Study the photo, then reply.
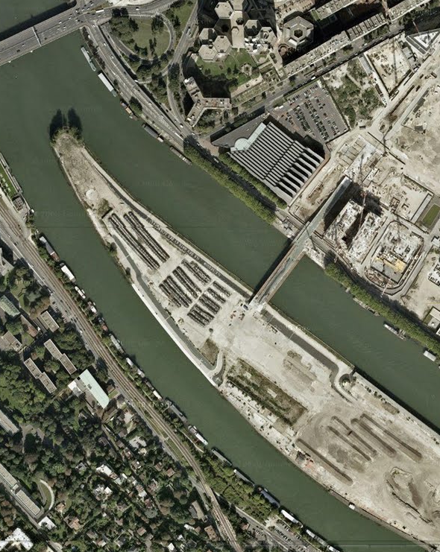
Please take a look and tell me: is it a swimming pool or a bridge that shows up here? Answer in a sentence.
The one in the frame is a bridge.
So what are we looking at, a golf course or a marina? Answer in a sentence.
The picture captures a marina.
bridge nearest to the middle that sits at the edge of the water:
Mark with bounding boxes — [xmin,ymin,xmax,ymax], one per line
[251,177,352,307]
